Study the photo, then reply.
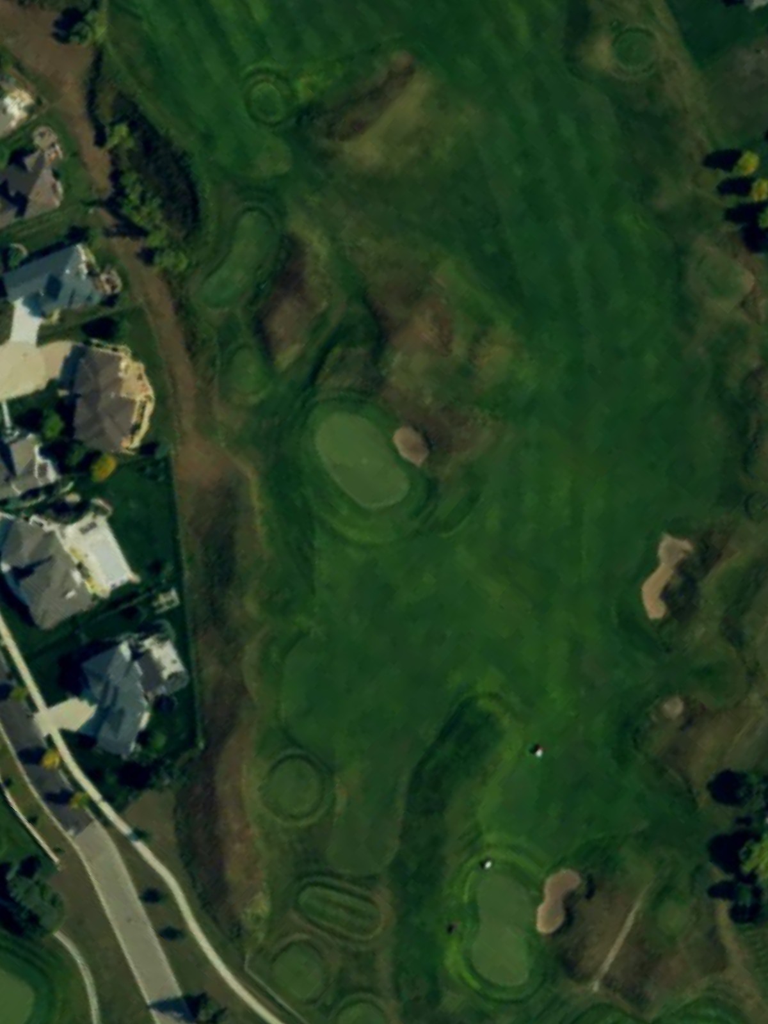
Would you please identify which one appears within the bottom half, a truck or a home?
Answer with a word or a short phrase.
home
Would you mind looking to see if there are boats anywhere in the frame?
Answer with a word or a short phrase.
No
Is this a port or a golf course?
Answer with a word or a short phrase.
golf course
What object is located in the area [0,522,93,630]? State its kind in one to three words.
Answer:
house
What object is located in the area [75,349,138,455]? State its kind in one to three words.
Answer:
house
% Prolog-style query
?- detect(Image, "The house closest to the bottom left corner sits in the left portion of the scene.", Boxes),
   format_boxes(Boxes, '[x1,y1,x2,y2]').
[87,639,150,753]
